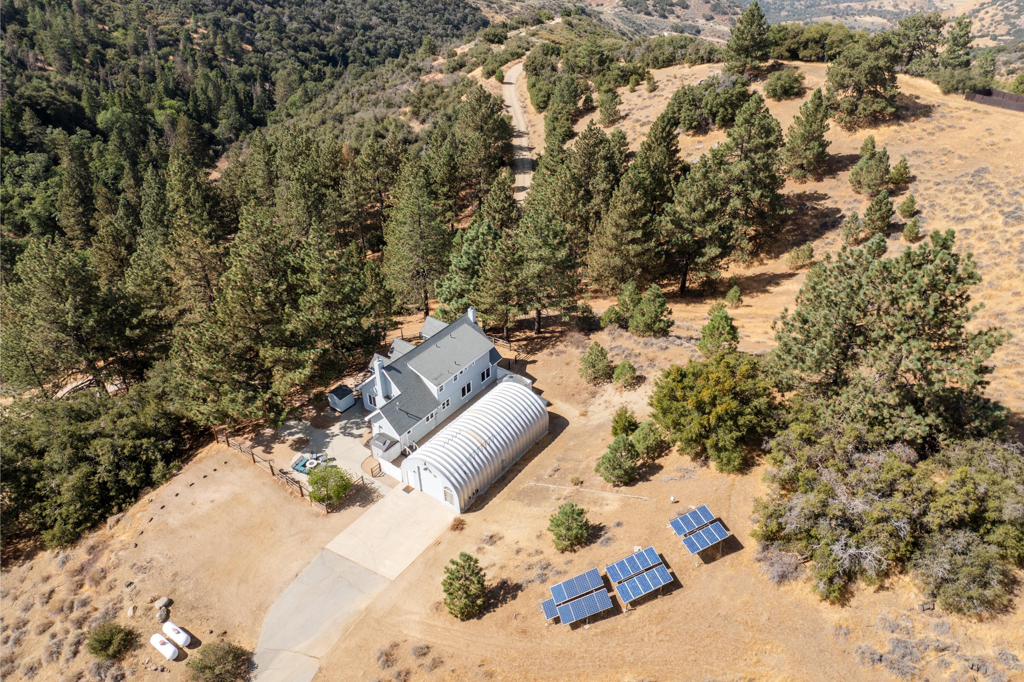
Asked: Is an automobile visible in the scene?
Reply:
No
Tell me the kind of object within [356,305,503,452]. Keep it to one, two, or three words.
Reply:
house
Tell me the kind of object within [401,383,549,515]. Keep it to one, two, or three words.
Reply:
hangar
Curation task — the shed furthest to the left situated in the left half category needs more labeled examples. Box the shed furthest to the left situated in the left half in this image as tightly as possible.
[326,384,355,412]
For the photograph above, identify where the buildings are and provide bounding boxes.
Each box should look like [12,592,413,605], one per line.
[356,305,503,452]
[401,383,549,515]
[326,384,355,412]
